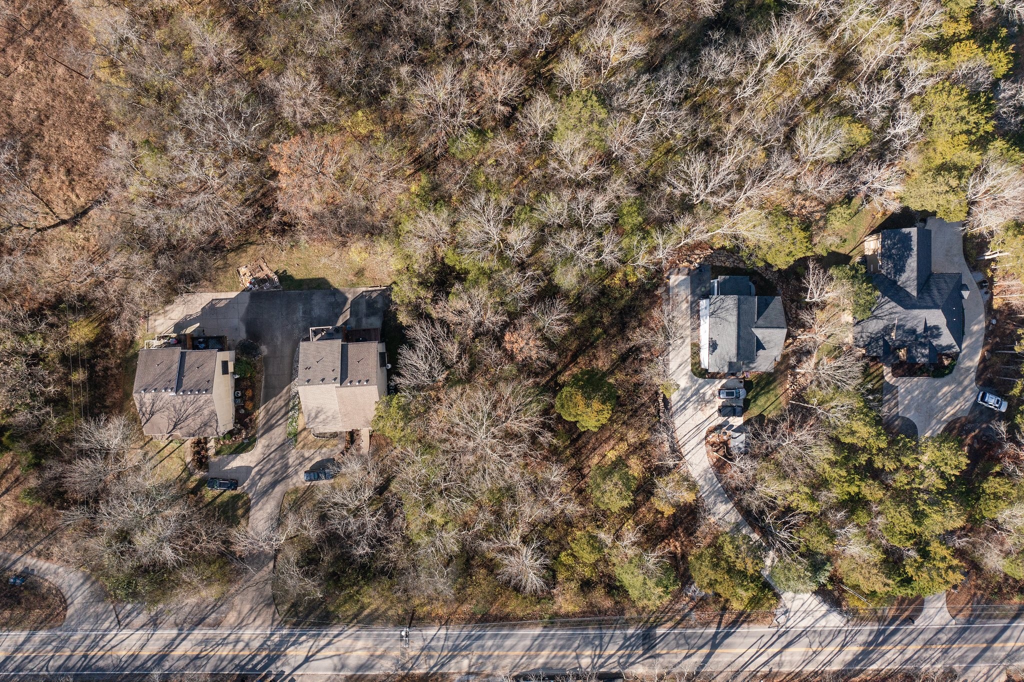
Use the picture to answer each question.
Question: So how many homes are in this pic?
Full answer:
The picture shows 4 homes.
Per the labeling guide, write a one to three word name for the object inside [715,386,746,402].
car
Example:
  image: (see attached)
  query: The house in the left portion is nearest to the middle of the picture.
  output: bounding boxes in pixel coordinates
[298,325,386,433]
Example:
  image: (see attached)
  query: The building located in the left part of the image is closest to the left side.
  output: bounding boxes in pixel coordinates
[133,333,236,440]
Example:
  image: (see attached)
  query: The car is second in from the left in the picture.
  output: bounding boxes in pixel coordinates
[303,467,335,482]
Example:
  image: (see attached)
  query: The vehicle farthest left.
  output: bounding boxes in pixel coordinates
[209,476,241,491]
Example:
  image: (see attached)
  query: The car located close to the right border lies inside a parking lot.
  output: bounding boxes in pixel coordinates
[972,391,1005,410]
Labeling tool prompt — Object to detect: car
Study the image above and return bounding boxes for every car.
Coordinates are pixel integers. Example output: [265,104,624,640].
[972,391,1005,410]
[713,402,743,417]
[715,386,746,402]
[303,467,335,482]
[209,476,241,491]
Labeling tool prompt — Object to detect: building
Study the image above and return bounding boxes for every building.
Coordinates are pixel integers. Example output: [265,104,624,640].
[298,325,386,433]
[700,276,787,372]
[841,227,969,364]
[133,333,236,440]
